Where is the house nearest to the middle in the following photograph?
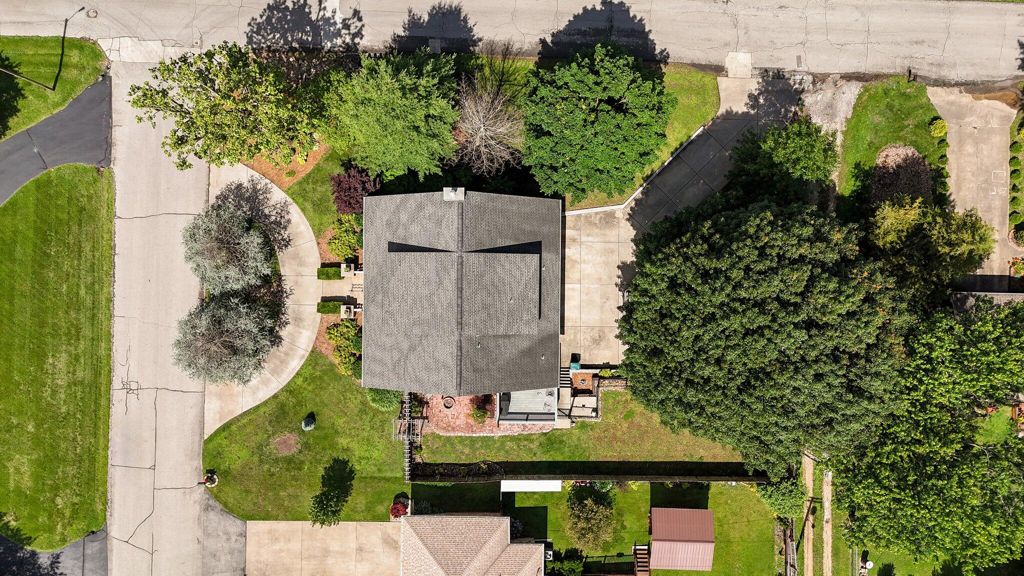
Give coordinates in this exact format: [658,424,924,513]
[361,188,562,397]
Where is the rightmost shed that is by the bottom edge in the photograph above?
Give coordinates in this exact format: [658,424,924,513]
[647,504,715,571]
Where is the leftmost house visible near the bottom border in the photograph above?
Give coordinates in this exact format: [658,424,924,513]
[400,509,545,576]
